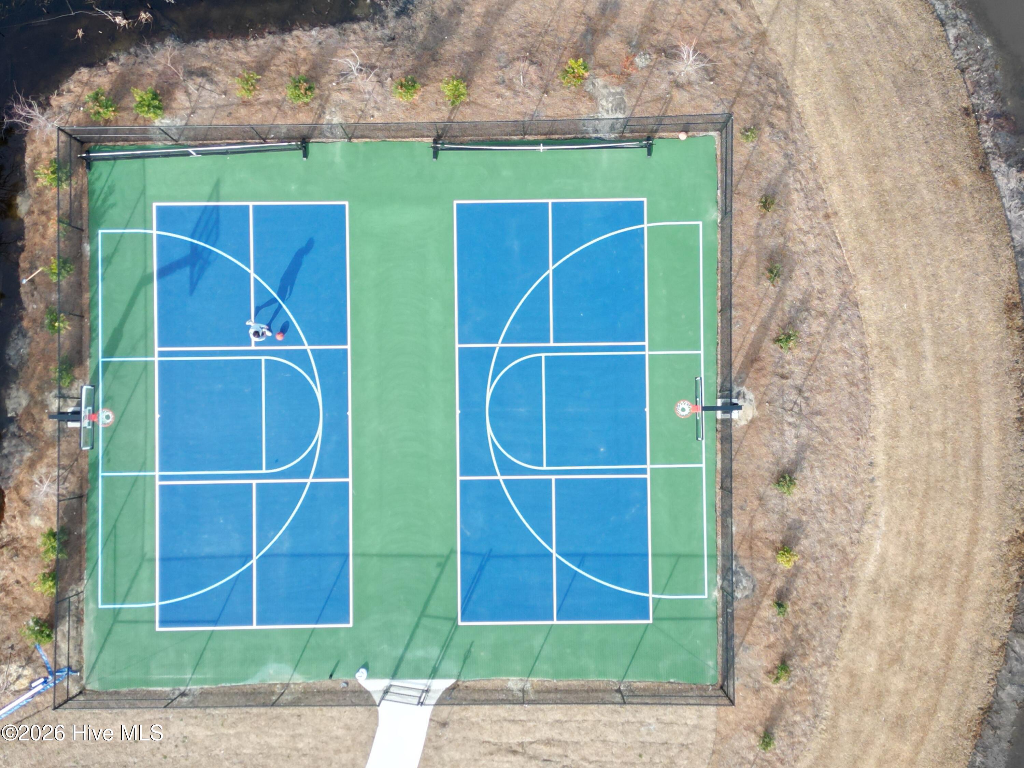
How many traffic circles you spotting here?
zero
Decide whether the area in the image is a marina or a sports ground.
sports ground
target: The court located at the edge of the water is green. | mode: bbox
[84,136,718,690]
